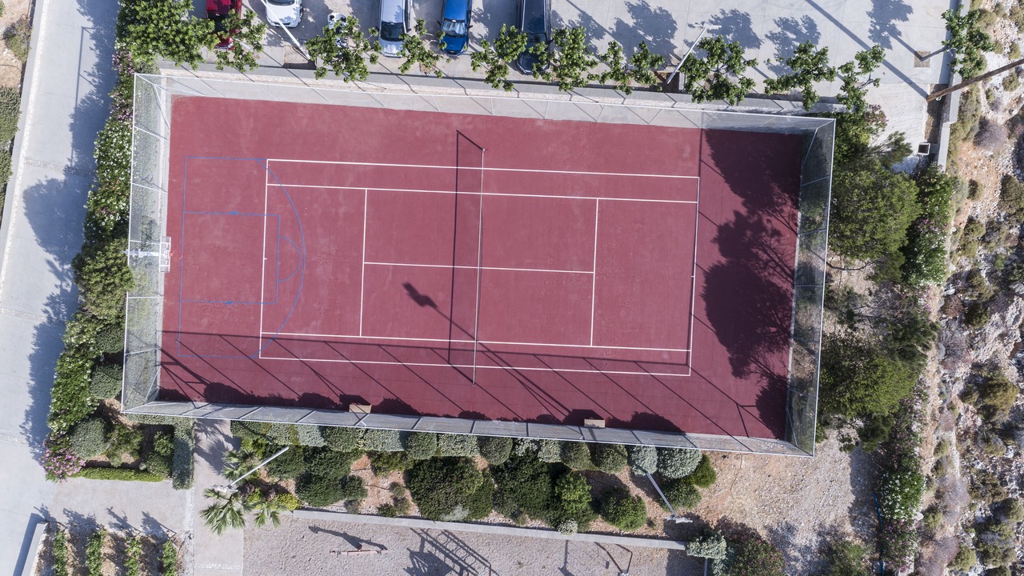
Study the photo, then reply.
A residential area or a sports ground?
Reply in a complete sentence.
This looks like a sports ground.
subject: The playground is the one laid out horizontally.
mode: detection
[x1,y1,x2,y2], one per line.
[243,509,707,576]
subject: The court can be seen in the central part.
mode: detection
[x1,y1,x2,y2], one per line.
[160,95,803,439]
